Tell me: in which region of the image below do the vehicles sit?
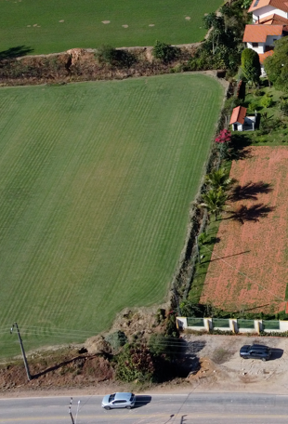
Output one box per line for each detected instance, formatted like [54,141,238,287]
[239,343,272,361]
[101,390,136,409]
